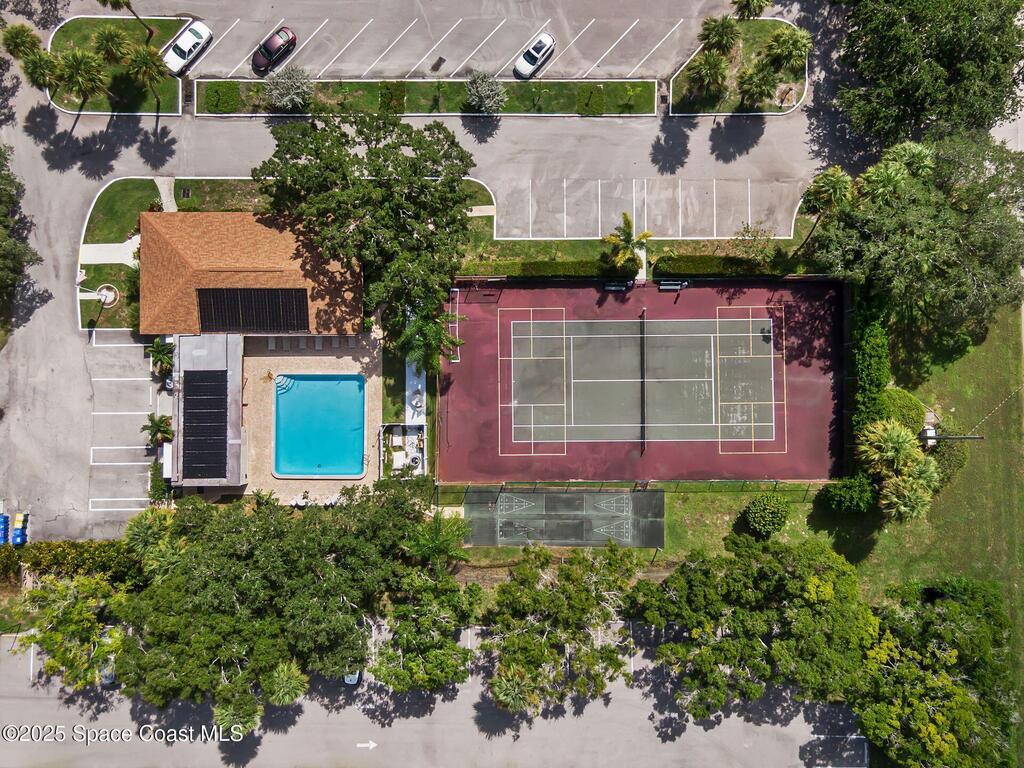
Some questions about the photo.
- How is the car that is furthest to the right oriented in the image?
diagonally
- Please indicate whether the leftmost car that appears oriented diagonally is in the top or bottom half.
top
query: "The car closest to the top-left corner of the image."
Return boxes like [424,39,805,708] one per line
[165,19,213,75]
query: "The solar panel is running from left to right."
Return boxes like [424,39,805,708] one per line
[198,289,315,335]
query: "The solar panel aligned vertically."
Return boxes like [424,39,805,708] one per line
[183,369,227,479]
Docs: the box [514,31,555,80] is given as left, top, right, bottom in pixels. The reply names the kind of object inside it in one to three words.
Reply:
car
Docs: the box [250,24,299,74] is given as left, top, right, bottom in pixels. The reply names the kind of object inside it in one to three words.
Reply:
car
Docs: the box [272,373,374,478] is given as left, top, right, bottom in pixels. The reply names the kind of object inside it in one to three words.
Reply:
swimming pool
